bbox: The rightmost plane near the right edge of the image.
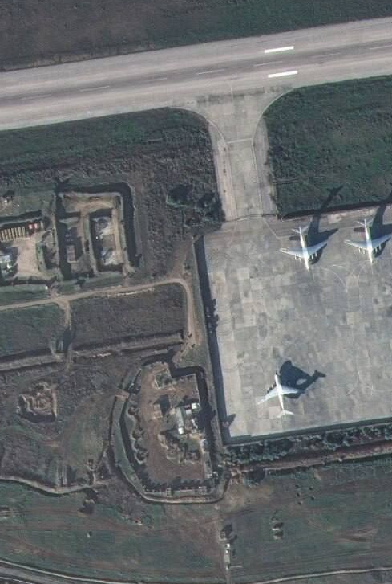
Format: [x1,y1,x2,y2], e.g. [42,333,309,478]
[343,220,391,265]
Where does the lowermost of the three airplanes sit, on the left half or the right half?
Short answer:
right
